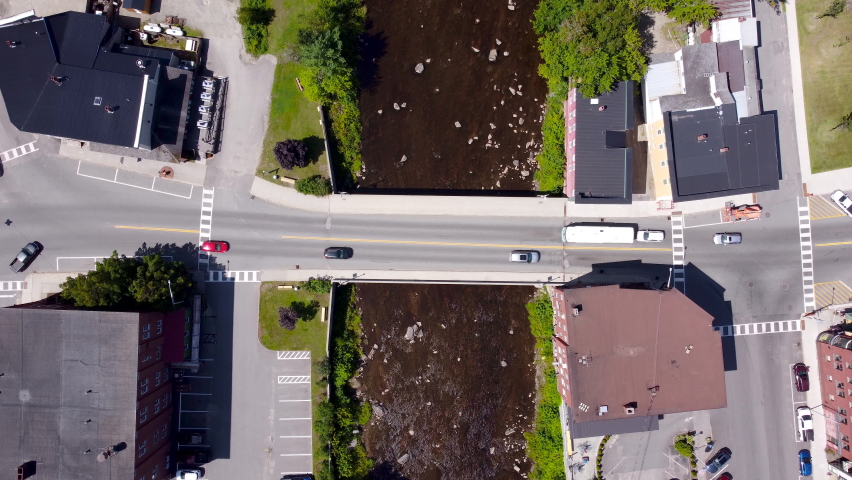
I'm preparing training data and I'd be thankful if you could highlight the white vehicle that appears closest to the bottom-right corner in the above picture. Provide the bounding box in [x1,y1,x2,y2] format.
[796,406,815,443]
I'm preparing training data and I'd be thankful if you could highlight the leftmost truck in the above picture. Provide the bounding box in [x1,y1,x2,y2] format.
[8,242,43,273]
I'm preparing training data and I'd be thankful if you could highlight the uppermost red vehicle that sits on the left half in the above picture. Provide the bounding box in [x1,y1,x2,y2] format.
[201,240,230,253]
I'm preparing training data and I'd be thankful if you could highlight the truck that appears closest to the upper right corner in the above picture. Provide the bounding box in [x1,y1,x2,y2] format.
[830,189,852,221]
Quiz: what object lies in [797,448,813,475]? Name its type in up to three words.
car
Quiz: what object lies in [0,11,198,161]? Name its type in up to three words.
building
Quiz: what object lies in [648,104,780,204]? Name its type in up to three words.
building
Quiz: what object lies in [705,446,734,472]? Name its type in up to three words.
car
